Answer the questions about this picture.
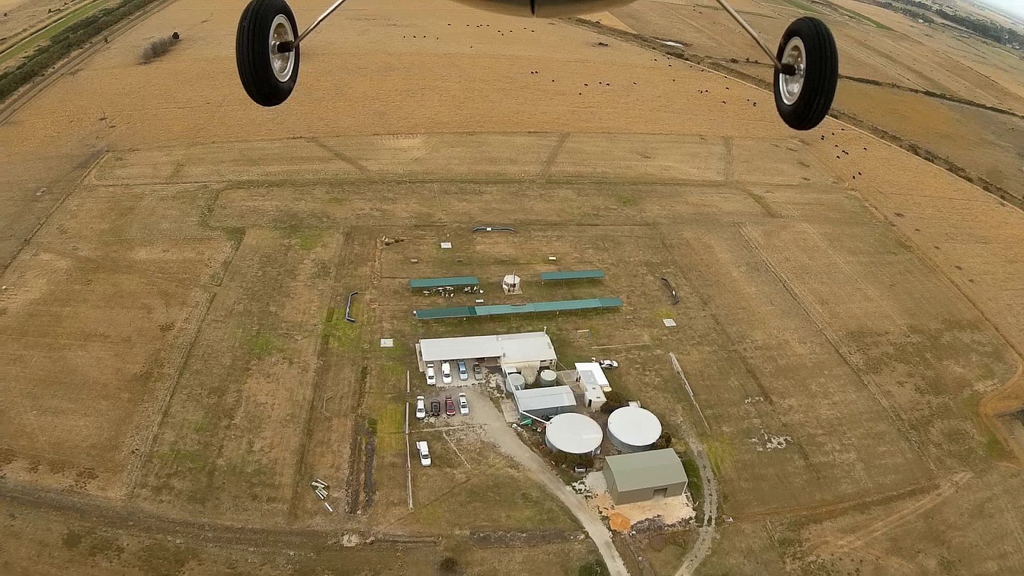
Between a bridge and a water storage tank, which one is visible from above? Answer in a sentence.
Of the two, only a water storage tank appears.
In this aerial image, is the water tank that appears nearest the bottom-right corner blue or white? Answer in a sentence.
The water tank that appears nearest the bottom-right corner is white.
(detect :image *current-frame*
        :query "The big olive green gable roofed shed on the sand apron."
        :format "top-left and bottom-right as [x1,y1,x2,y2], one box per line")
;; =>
[604,447,690,505]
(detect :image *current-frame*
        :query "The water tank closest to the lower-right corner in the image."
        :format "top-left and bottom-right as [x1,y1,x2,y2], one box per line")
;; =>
[606,401,661,454]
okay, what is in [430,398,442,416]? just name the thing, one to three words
vehicle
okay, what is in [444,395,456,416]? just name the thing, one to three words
vehicle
